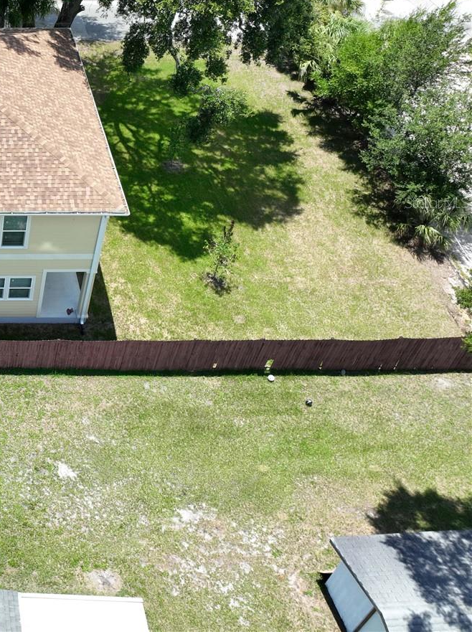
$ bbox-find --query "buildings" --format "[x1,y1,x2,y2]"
[0,590,150,632]
[318,533,472,632]
[0,28,133,341]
